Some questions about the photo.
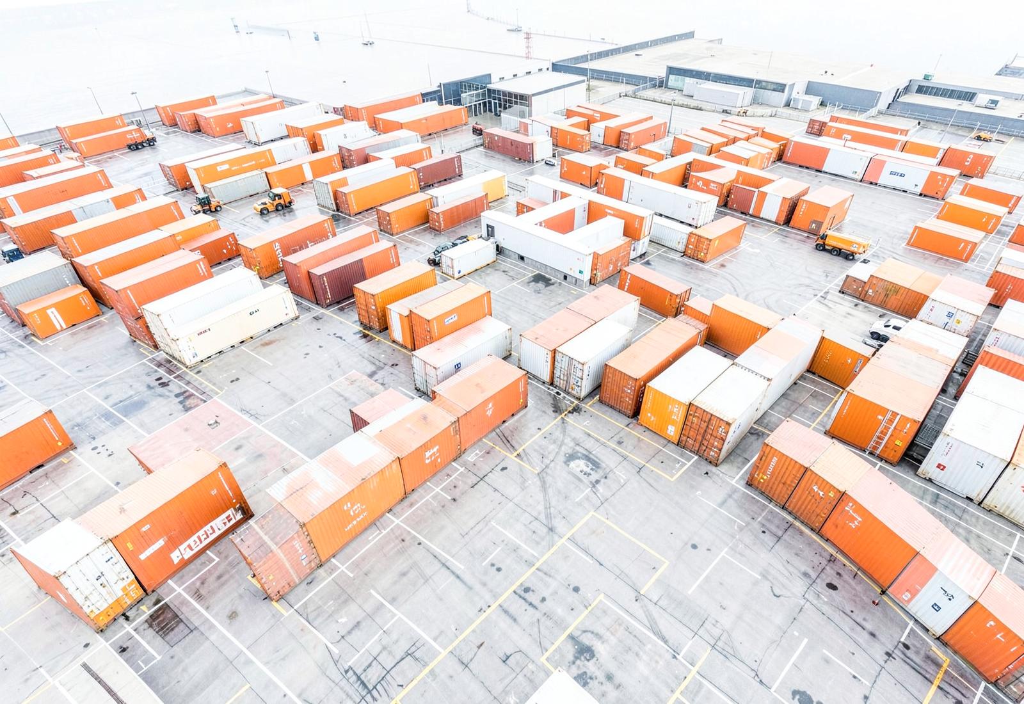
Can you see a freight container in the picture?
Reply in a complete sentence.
Yes, I can see a freight container in this picture.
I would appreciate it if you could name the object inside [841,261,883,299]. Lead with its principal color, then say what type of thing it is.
white shipping container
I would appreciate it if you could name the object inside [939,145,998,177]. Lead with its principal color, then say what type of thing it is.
red shipping container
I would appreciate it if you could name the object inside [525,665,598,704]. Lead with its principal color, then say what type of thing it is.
white shipping container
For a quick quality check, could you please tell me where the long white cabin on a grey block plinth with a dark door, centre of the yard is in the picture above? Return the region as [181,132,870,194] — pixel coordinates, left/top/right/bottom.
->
[481,208,601,289]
